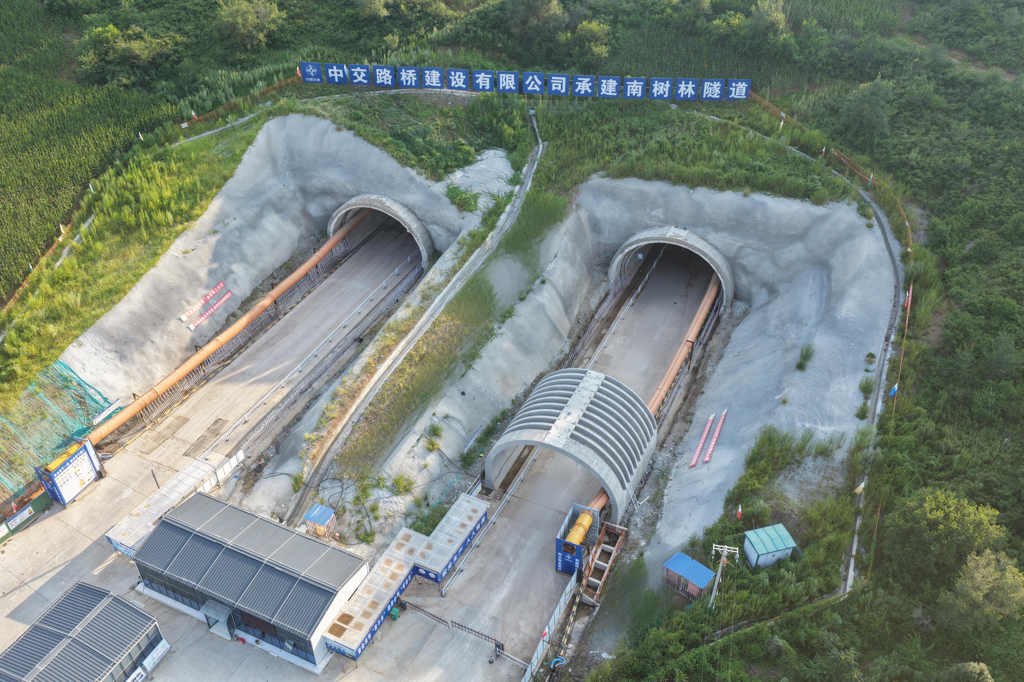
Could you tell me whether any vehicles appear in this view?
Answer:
No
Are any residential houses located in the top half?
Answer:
No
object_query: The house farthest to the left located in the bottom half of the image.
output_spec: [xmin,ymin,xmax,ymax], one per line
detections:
[0,580,159,682]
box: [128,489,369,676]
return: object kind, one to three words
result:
house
